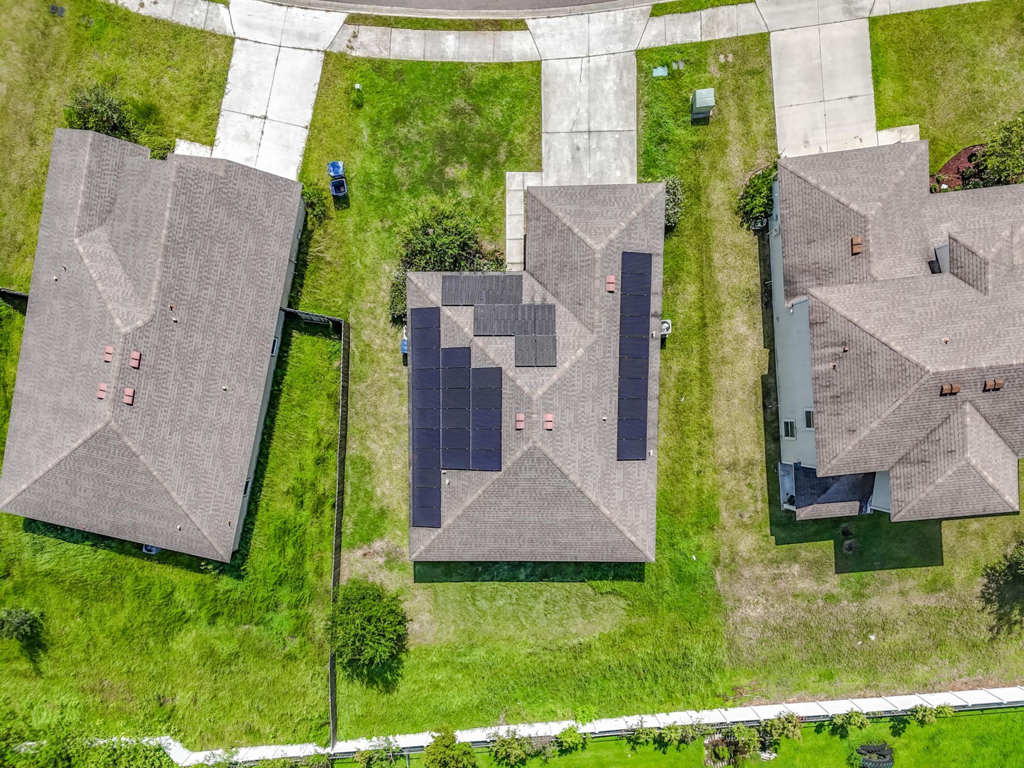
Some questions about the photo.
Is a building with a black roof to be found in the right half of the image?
No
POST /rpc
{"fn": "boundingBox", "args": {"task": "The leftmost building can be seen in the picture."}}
[0,128,307,564]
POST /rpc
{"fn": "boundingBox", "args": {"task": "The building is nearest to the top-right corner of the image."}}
[760,139,1024,523]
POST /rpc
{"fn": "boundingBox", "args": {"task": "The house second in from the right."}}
[405,182,667,563]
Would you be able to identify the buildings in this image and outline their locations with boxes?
[0,128,307,564]
[760,139,1024,523]
[405,182,667,563]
